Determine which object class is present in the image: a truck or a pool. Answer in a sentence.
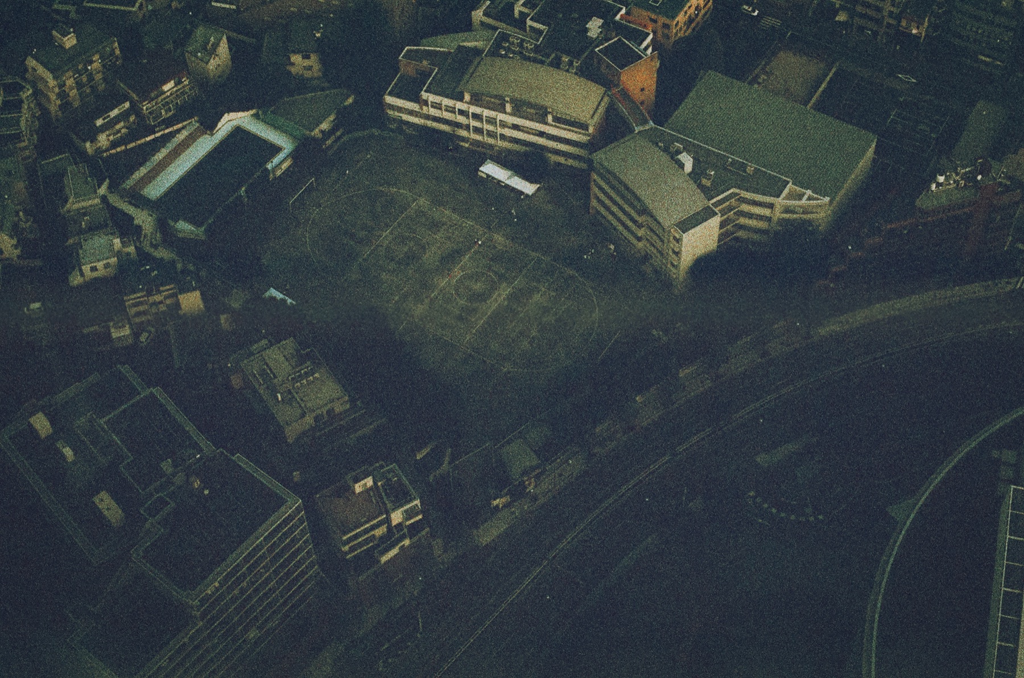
Visible in the photo is a pool.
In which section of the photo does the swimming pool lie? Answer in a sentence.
The swimming pool sits in the top left section of the image.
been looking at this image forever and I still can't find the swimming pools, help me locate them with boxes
[122,108,310,256]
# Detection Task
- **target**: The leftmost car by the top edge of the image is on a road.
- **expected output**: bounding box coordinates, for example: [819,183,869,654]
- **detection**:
[740,4,760,17]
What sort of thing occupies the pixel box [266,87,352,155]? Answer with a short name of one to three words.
building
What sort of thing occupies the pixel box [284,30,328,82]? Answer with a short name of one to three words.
house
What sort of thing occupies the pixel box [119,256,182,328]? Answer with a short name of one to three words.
house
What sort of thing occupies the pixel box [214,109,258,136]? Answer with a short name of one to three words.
building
